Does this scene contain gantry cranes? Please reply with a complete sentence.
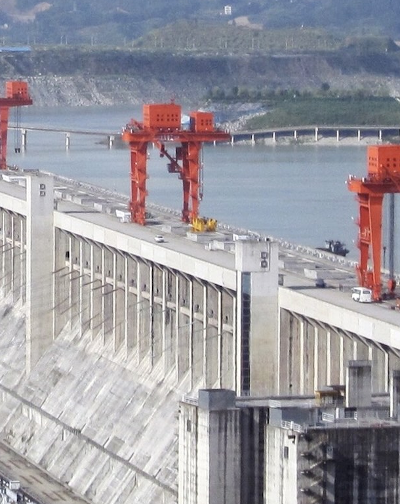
Yes, you can see a gantry crane in this photo.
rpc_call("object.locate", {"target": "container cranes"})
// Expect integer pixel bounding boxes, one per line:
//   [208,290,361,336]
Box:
[0,77,25,168]
[342,143,400,299]
[118,96,229,224]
